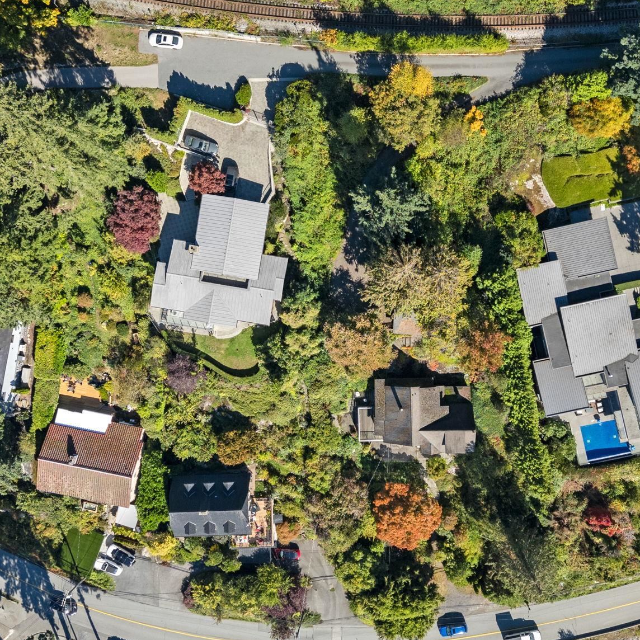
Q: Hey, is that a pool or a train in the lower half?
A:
pool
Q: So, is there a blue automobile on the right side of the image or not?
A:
Yes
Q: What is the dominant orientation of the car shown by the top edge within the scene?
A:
from side to side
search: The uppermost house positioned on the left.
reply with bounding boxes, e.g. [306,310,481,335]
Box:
[151,194,289,329]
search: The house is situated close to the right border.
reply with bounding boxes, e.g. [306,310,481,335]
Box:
[516,216,640,442]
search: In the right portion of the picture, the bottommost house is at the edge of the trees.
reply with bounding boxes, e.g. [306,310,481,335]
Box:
[375,377,476,455]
